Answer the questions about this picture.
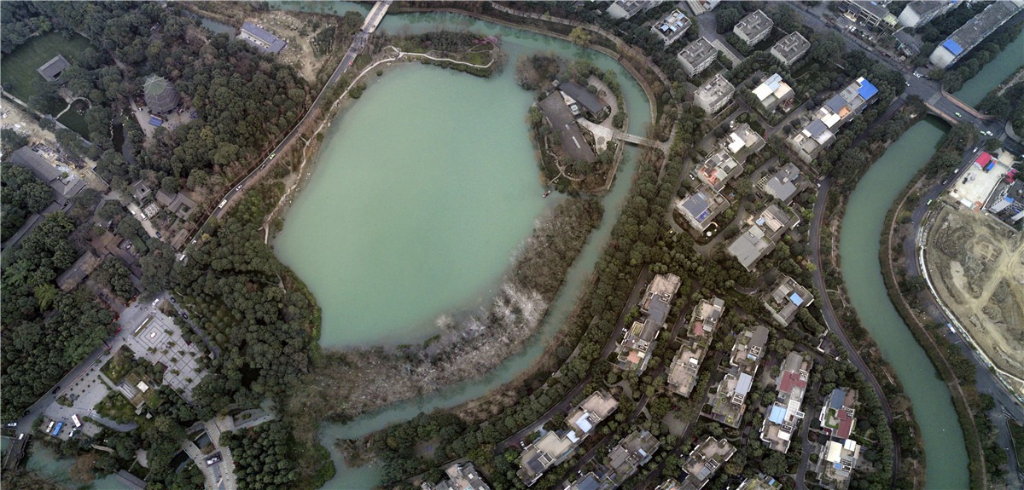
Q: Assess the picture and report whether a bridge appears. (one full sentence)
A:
Yes, the frame does contain a bridge.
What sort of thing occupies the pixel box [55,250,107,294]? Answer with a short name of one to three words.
building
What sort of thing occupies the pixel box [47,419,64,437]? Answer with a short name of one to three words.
vehicle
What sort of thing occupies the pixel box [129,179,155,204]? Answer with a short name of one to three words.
building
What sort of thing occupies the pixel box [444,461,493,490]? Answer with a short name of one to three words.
house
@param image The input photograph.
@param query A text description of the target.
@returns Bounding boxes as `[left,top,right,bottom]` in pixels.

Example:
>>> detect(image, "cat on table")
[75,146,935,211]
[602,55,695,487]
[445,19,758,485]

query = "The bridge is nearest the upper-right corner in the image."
[921,85,989,128]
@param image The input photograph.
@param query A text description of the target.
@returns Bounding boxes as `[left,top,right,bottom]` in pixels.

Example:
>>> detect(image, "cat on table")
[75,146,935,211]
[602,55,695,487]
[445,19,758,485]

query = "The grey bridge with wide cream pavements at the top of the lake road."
[354,0,394,38]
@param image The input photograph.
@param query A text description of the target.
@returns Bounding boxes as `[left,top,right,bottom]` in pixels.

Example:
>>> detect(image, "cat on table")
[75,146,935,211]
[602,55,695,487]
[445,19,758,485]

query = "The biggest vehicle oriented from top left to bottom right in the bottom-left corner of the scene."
[68,412,82,429]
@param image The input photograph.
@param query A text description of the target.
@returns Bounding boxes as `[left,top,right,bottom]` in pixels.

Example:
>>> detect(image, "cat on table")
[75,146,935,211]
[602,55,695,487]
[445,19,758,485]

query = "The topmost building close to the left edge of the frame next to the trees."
[36,53,73,85]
